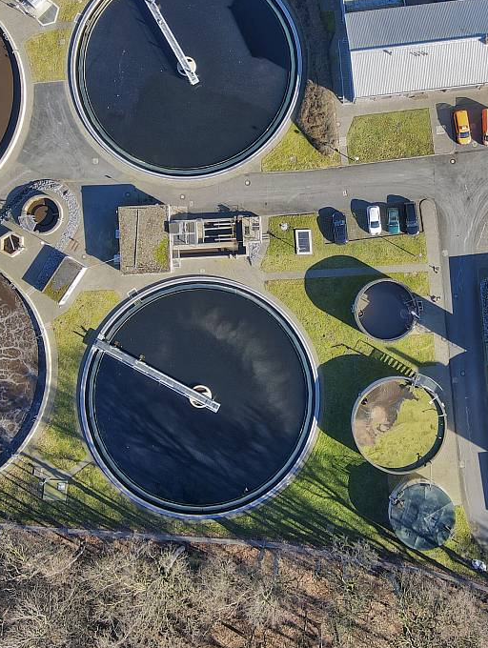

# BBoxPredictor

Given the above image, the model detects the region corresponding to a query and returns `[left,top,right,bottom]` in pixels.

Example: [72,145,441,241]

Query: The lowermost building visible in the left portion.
[42,256,89,305]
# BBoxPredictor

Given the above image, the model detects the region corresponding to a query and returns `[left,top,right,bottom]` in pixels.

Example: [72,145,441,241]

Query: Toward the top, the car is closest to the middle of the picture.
[330,210,347,243]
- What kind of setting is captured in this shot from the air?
industrial area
